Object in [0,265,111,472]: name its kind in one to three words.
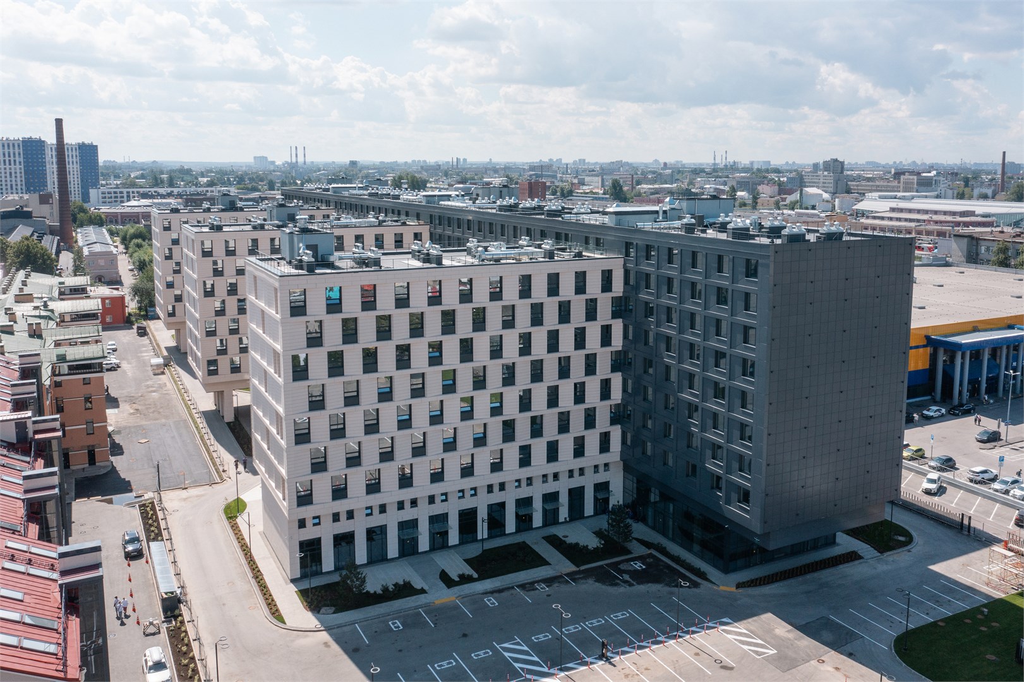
building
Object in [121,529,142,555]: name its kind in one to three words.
car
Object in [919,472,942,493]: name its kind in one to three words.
car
